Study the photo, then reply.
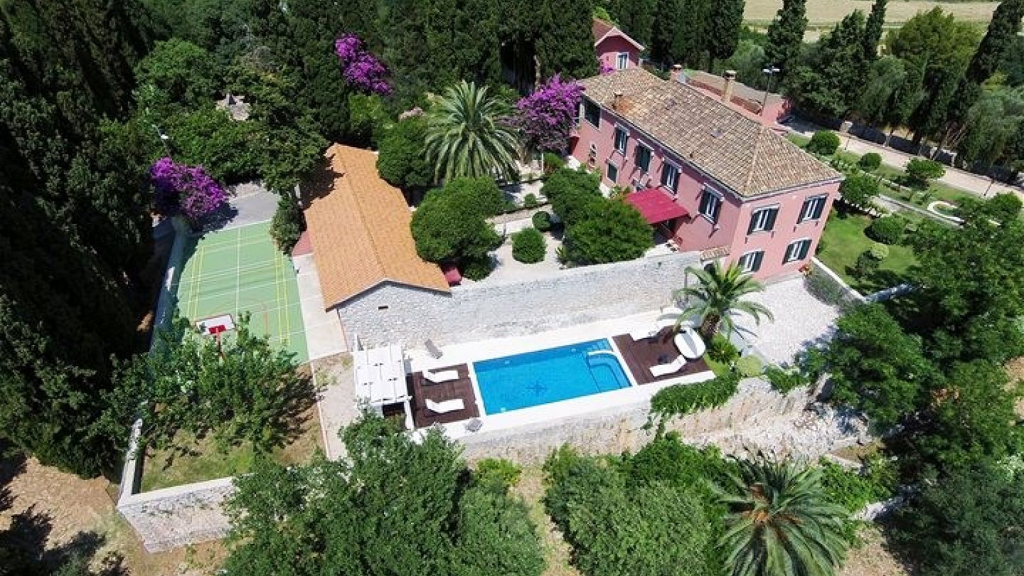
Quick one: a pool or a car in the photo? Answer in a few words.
pool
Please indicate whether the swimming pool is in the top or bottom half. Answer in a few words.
bottom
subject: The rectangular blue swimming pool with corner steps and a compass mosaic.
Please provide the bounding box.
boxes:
[467,333,639,420]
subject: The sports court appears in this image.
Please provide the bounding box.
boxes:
[143,220,306,388]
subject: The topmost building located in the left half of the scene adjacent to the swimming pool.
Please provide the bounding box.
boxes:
[300,139,452,353]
